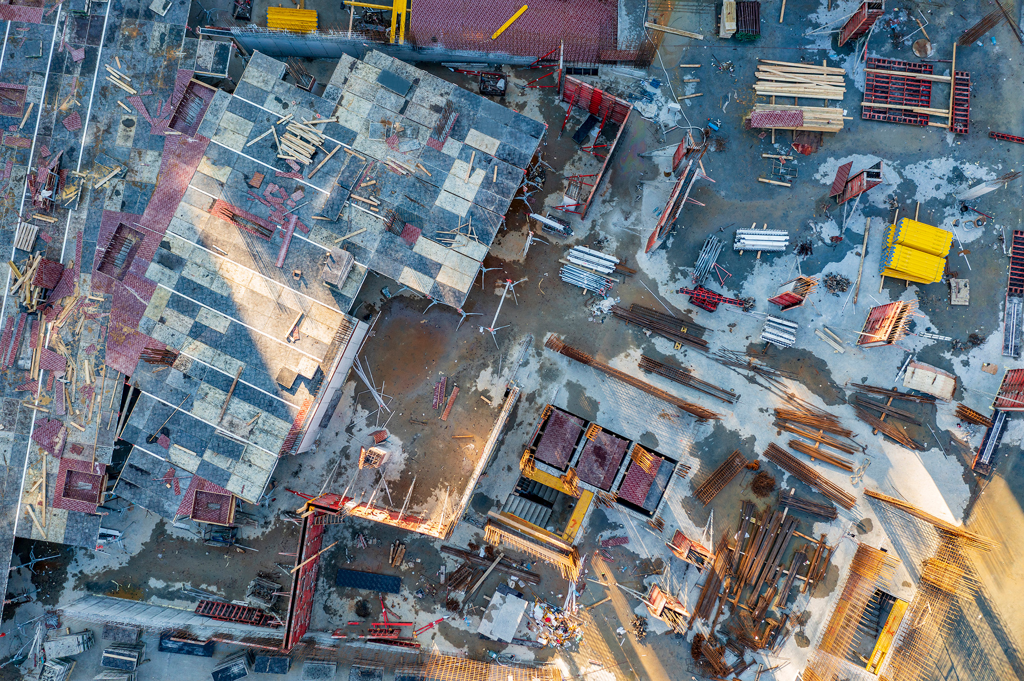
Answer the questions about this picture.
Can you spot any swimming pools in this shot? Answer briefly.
No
